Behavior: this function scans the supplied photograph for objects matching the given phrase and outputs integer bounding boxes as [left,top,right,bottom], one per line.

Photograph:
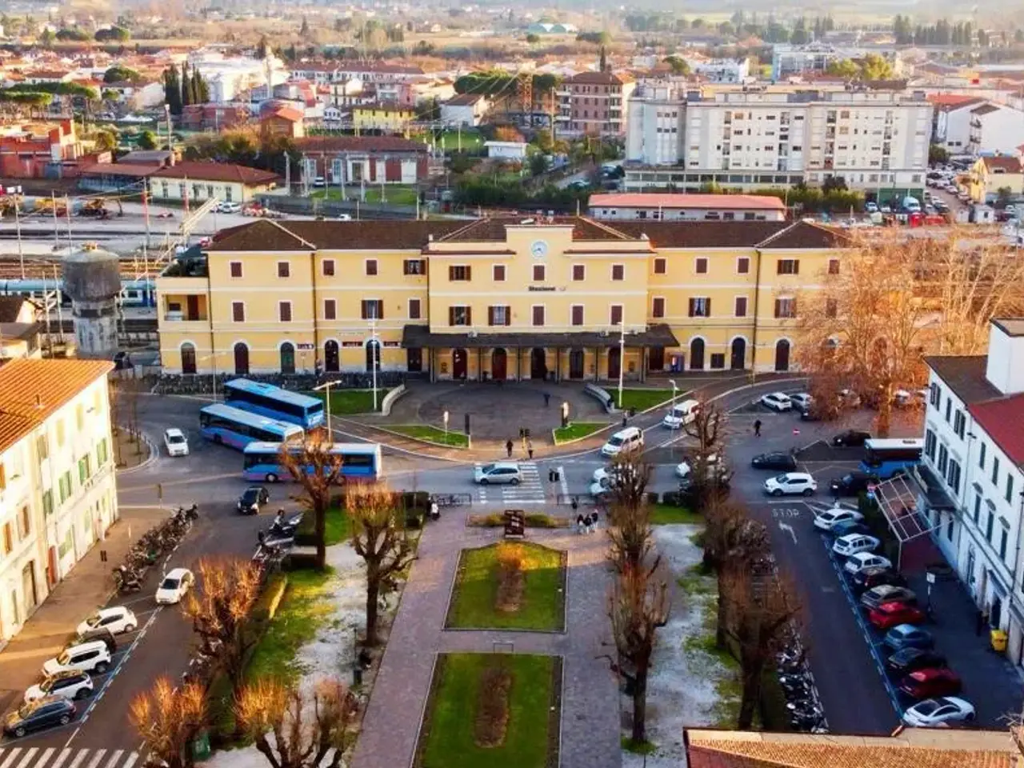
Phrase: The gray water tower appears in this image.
[57,238,130,357]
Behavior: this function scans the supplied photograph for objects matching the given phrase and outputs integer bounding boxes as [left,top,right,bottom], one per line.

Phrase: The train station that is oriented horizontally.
[157,206,928,383]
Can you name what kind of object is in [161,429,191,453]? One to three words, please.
car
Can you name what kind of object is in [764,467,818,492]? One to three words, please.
car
